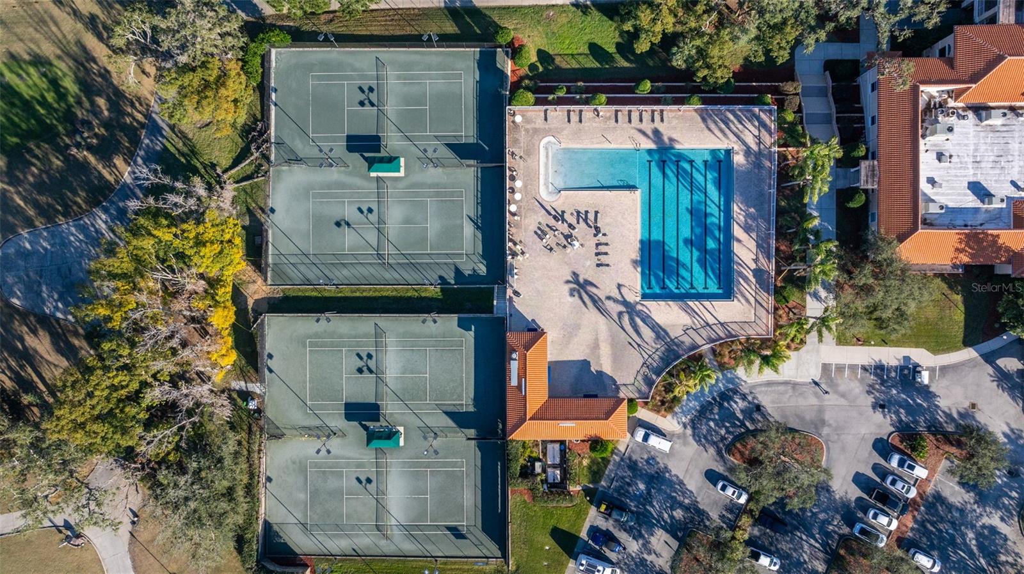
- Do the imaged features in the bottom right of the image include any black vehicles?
Yes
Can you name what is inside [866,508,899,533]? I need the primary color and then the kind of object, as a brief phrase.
white car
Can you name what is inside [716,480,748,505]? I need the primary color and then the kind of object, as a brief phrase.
white car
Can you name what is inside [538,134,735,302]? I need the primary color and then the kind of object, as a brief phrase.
blue swimming pool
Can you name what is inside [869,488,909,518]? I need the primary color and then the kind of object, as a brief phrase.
black truck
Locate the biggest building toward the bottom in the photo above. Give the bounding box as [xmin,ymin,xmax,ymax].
[506,327,628,441]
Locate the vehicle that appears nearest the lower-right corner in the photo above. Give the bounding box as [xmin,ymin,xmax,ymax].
[908,549,940,573]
